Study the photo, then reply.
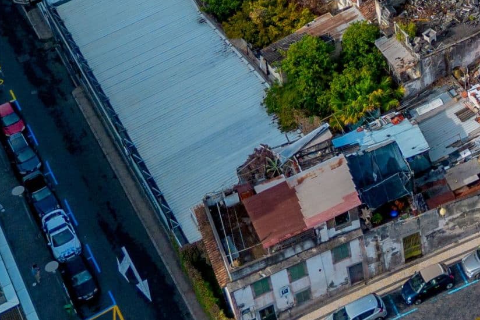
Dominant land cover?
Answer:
buildings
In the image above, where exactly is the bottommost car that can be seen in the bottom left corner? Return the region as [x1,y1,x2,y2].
[61,247,107,312]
